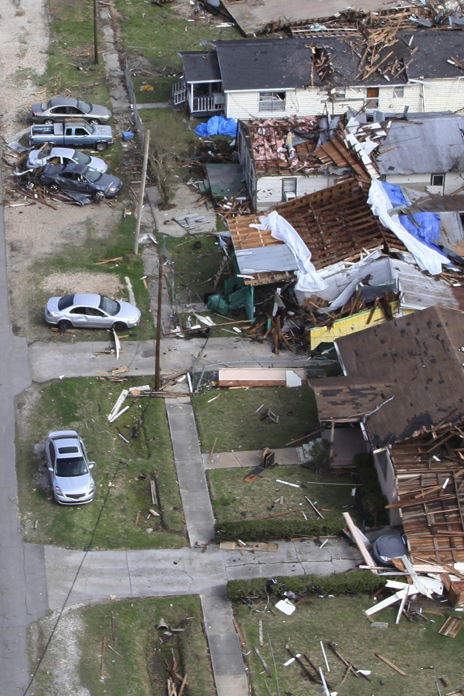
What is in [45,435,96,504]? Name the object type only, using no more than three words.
car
